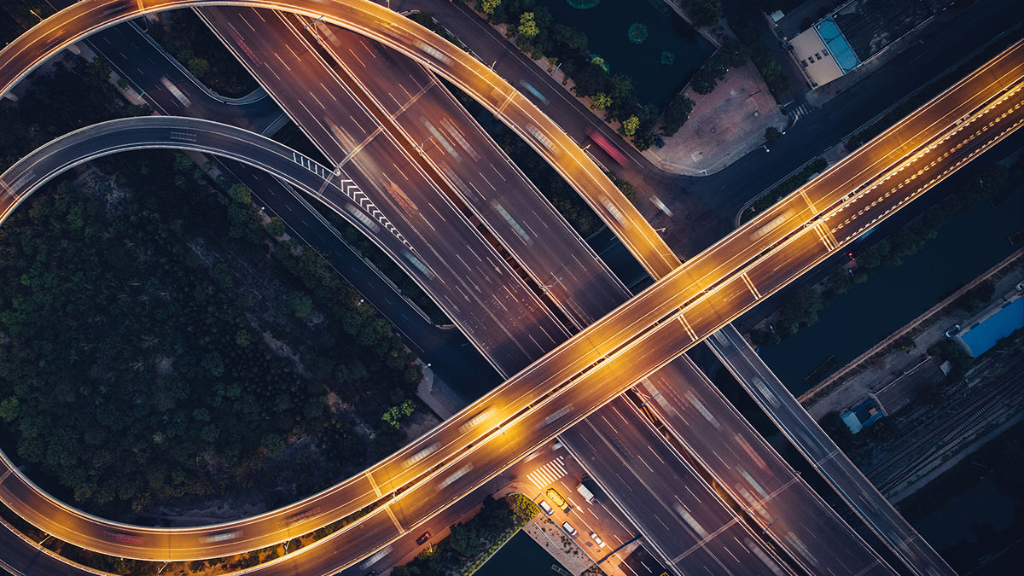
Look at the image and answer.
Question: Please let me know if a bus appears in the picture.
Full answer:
Yes, the photo shows a bus.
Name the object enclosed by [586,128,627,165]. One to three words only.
bus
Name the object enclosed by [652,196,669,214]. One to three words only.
car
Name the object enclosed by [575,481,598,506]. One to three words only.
truck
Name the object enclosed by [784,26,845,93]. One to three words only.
building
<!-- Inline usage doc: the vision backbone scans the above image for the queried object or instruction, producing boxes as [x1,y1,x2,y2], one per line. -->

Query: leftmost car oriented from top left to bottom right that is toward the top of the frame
[168,84,186,101]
